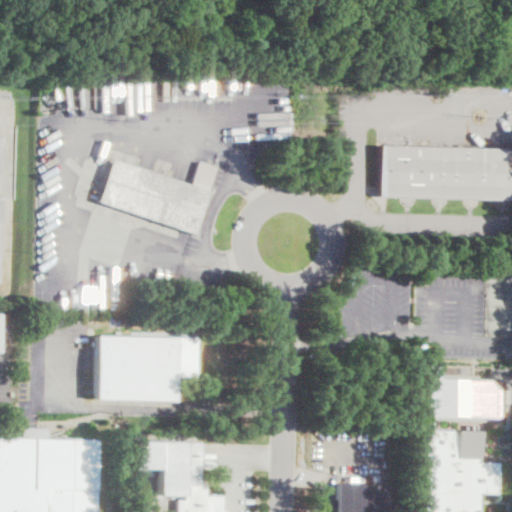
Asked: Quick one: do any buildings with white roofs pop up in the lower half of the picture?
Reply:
Yes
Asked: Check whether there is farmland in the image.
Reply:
No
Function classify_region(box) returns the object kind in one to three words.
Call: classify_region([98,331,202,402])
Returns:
building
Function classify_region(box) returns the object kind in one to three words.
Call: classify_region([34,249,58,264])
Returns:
vehicle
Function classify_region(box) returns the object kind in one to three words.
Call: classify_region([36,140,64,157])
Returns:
vehicle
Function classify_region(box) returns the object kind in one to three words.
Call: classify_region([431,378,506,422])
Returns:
building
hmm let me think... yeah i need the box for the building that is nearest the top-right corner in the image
[380,146,512,201]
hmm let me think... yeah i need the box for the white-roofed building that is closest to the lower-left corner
[0,428,102,512]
